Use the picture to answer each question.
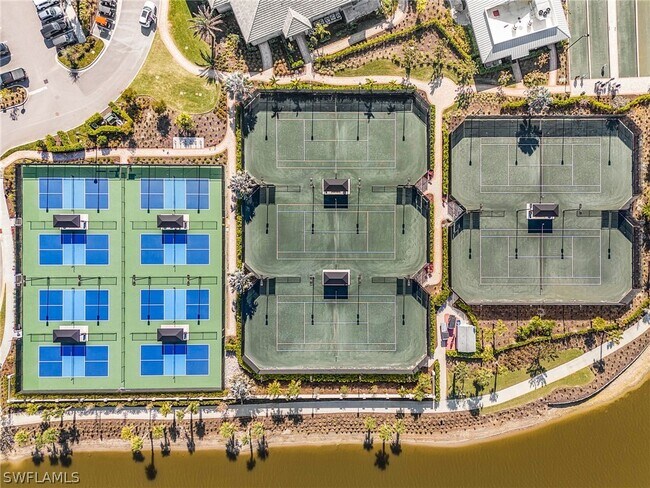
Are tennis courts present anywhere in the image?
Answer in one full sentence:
Yes, you can see a tennis court in this photo.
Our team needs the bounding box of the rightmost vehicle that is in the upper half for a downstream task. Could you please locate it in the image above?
[139,2,156,28]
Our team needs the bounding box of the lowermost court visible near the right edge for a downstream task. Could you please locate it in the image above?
[451,211,632,303]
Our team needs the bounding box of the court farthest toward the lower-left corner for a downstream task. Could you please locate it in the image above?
[39,343,109,379]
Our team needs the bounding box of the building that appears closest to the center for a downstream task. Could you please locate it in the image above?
[322,270,350,286]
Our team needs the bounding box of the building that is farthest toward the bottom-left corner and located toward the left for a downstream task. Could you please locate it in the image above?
[53,327,88,343]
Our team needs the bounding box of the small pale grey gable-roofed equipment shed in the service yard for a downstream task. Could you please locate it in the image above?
[455,325,476,352]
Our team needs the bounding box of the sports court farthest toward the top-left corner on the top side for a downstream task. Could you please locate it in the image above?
[39,175,109,211]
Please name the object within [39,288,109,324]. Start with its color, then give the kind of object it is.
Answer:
blue sports court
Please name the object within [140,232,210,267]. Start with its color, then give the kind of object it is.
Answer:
blue sports court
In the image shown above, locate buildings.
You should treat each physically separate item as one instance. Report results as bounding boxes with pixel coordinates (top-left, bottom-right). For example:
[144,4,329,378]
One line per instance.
[322,270,350,286]
[322,179,350,195]
[157,327,189,343]
[455,325,476,352]
[461,0,571,65]
[53,214,88,229]
[211,0,380,45]
[157,214,189,229]
[527,203,559,219]
[53,327,88,343]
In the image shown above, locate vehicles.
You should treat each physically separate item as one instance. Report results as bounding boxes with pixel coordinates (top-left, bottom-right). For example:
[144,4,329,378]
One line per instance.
[40,20,69,36]
[139,2,156,28]
[51,33,78,48]
[34,0,61,10]
[38,6,65,22]
[439,322,448,340]
[446,314,456,328]
[95,16,117,30]
[0,44,12,56]
[0,69,29,87]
